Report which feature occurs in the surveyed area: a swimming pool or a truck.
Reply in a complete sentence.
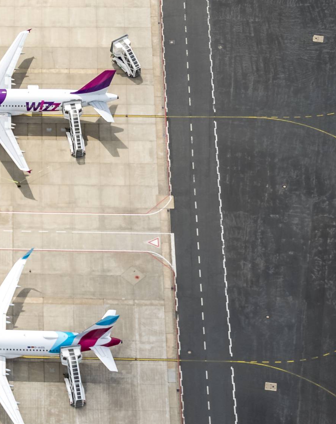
It is a truck that can be seen here.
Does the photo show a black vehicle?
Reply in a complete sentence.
No, the picture doesn't show any black vehicle.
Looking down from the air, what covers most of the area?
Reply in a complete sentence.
The scene is dominated by paved ground.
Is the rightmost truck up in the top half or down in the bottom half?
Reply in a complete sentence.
The top half of the photo is where the rightmost truck is.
